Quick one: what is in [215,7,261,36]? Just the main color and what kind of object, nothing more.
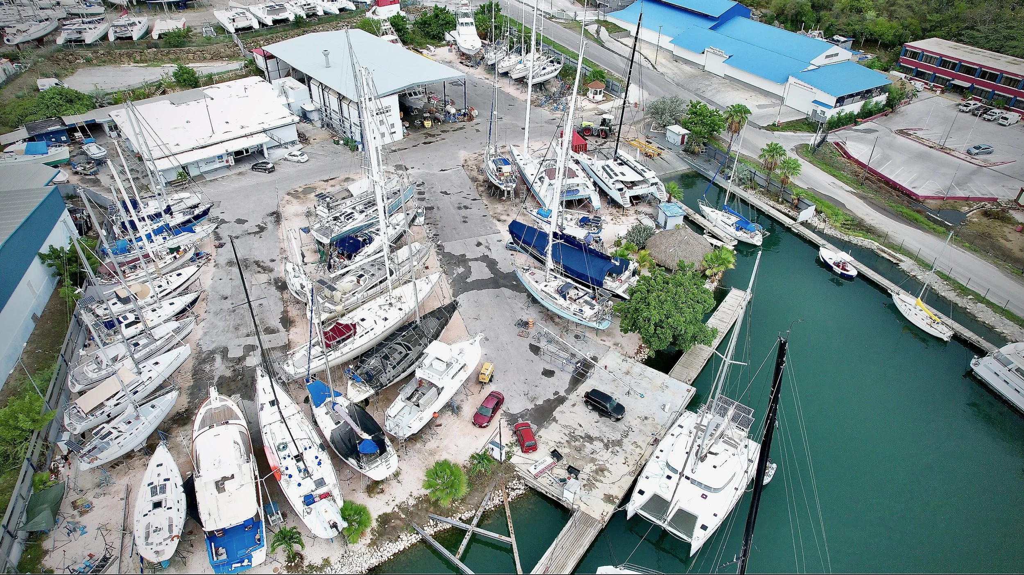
white boat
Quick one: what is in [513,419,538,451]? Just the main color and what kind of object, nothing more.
red car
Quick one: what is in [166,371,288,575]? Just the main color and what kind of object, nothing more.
white boat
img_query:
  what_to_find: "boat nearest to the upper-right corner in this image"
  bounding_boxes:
[832,31,850,46]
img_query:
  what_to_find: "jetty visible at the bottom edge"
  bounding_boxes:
[528,509,607,575]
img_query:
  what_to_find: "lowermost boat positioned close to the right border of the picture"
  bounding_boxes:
[970,357,1024,423]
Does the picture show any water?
Yes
